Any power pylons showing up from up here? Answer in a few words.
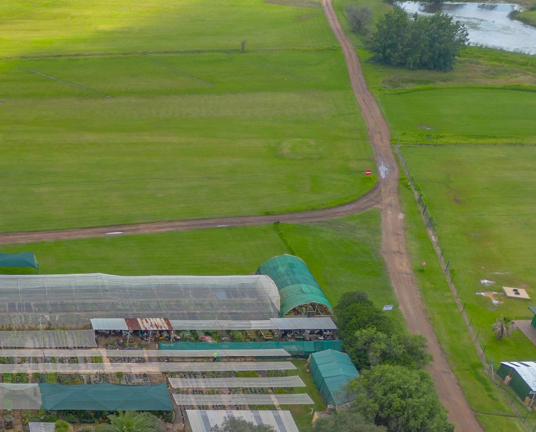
No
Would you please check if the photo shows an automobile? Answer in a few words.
No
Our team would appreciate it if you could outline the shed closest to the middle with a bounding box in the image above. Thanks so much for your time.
[267,317,337,340]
